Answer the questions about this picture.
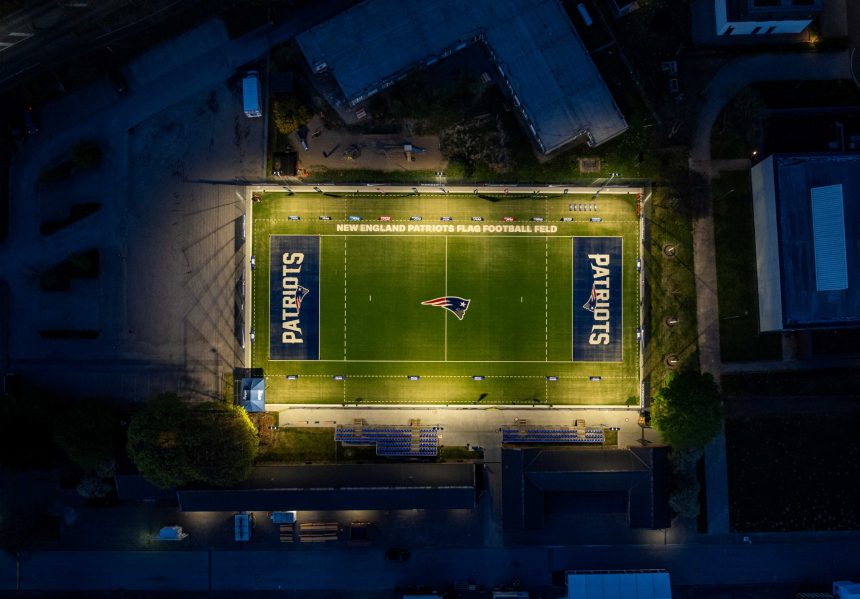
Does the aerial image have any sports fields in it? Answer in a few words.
Yes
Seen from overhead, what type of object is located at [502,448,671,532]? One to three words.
building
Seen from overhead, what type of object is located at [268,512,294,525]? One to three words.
vehicle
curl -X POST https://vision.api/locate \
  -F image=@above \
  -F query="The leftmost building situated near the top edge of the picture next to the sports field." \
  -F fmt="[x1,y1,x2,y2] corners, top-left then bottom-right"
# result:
[295,0,629,160]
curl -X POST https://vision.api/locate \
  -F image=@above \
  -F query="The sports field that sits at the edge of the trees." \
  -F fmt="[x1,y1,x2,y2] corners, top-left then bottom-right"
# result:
[251,192,640,403]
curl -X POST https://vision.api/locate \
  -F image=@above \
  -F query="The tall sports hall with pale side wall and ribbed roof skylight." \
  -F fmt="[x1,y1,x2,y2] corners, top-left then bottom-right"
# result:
[751,150,860,332]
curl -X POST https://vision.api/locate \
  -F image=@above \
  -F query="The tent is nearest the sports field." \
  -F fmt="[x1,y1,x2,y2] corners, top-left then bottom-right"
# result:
[242,376,269,412]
